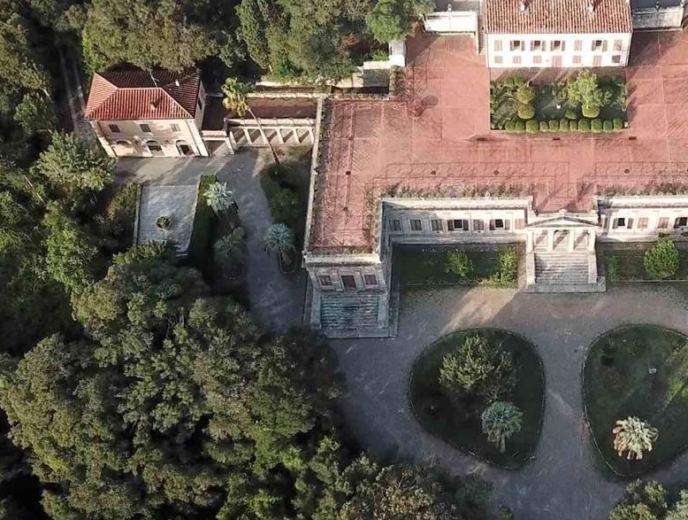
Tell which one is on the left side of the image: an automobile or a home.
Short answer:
home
